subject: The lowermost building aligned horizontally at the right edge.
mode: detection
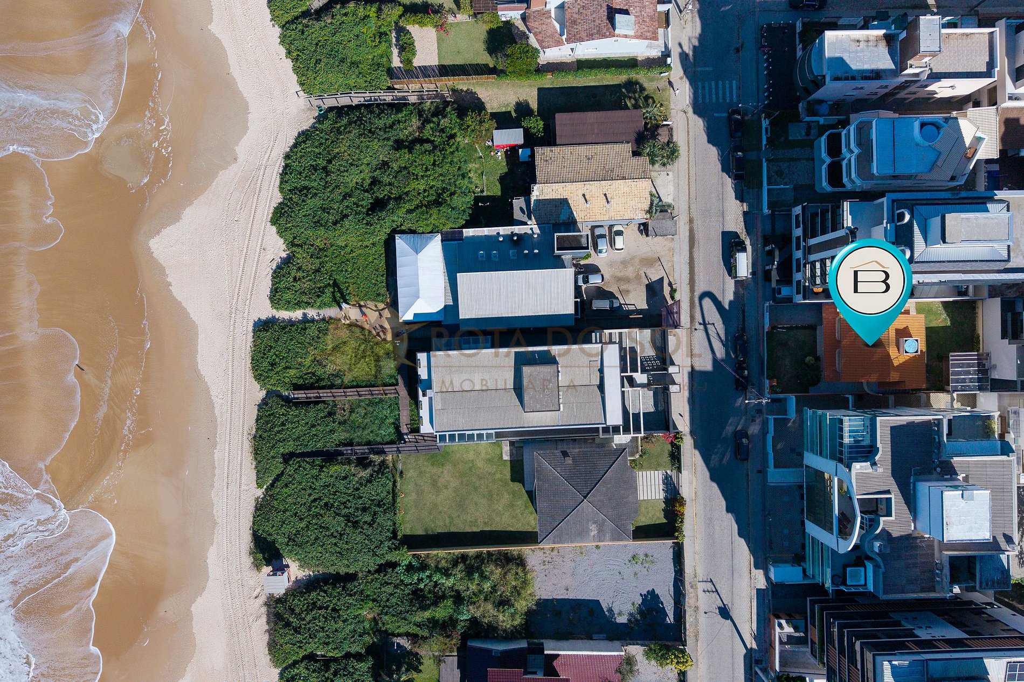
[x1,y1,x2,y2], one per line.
[804,593,1024,682]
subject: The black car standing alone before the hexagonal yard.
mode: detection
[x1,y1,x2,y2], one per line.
[733,429,750,461]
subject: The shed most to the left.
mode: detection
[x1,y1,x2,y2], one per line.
[262,563,292,595]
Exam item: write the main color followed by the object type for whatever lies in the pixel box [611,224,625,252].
white car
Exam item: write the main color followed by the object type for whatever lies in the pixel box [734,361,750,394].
black vehicle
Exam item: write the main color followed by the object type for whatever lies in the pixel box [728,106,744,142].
black vehicle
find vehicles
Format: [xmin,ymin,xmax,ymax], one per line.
[733,333,749,362]
[575,272,604,286]
[788,0,825,10]
[728,106,744,142]
[590,297,621,311]
[734,361,750,394]
[733,429,750,461]
[611,224,625,252]
[770,284,791,298]
[730,237,749,280]
[592,226,608,258]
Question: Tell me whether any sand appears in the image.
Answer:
Yes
